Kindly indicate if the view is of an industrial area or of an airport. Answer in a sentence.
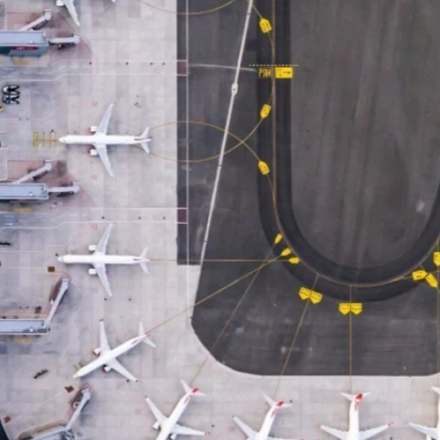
This looks like an airport.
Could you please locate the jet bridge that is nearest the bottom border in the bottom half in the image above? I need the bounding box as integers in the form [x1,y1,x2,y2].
[64,388,89,427]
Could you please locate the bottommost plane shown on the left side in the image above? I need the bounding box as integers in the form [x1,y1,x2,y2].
[144,385,205,440]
